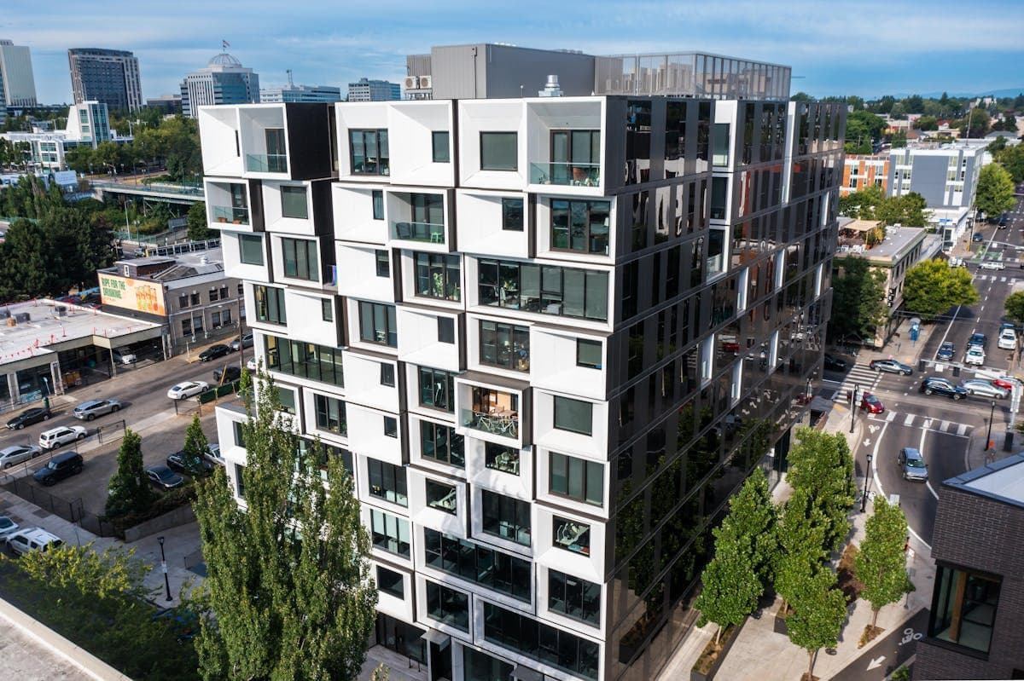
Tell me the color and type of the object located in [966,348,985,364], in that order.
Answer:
white car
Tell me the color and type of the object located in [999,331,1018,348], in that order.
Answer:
white vehicle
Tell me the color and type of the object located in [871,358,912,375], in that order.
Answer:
gray car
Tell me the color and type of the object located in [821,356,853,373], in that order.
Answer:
black car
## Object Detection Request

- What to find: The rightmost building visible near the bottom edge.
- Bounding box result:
[916,450,1024,681]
